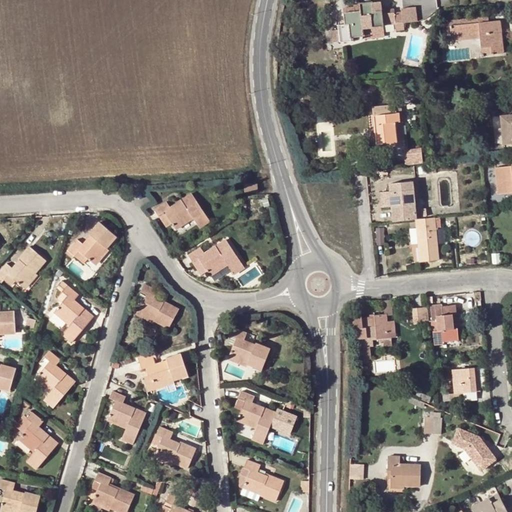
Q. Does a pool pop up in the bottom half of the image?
Yes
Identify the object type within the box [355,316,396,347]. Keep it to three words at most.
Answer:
house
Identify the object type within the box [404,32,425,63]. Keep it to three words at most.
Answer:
swimming pool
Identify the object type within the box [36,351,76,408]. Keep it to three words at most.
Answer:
house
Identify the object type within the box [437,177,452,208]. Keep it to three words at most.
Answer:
swimming pool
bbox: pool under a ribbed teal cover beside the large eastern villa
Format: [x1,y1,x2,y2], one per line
[448,46,472,62]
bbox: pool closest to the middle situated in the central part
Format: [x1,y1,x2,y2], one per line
[236,266,262,287]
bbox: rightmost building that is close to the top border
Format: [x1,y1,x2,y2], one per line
[452,17,504,55]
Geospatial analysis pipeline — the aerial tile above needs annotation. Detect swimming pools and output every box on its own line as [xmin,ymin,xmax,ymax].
[285,496,305,512]
[2,337,22,352]
[157,384,188,405]
[448,46,472,62]
[100,445,128,467]
[236,266,262,287]
[404,32,425,63]
[176,420,202,439]
[224,362,246,381]
[464,229,482,247]
[437,177,452,208]
[374,358,396,375]
[269,433,298,456]
[320,130,334,153]
[66,261,87,279]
